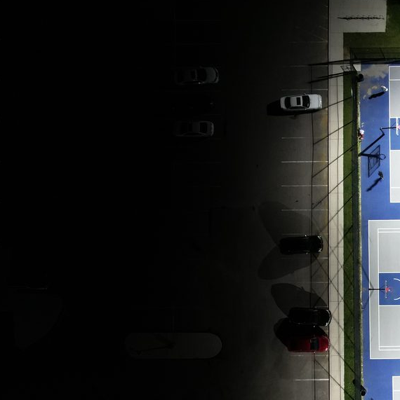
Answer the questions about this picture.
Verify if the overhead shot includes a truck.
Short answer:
No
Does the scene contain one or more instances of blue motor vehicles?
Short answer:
No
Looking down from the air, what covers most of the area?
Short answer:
paved ground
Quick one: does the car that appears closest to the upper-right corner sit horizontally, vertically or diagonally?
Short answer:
horizontally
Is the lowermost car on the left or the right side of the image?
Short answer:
right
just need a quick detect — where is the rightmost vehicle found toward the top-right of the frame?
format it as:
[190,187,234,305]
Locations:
[279,93,324,114]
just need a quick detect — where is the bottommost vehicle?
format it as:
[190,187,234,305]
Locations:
[287,333,331,354]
